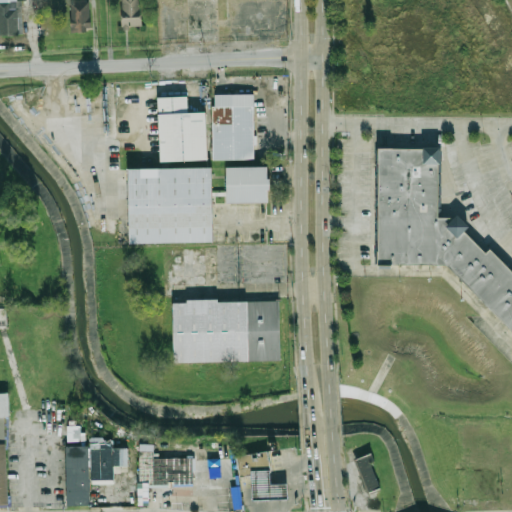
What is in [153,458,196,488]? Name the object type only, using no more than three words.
shed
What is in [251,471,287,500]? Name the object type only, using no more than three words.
shed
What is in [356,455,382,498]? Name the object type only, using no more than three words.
house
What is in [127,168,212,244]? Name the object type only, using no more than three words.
building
